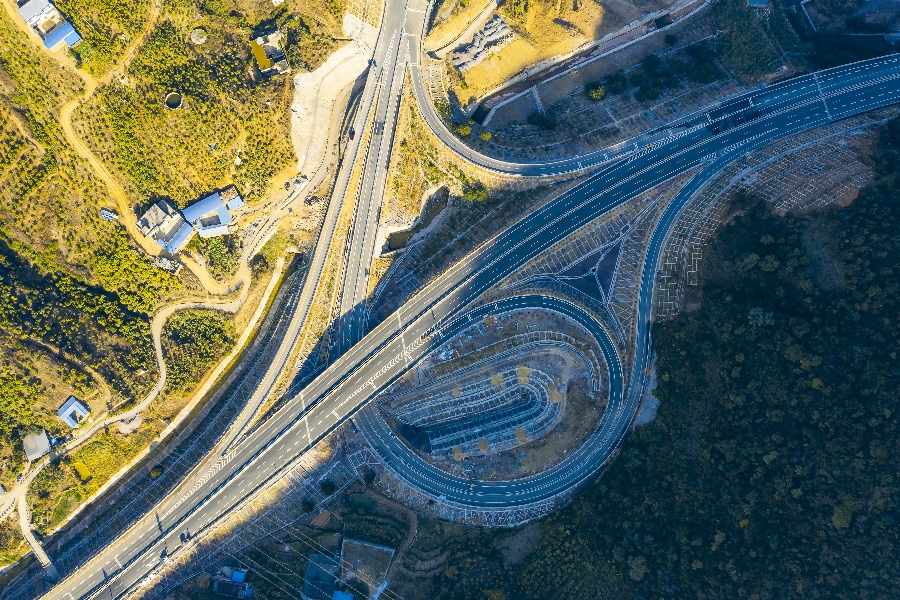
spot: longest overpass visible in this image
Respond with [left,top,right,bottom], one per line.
[296,318,442,436]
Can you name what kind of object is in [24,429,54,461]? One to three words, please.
house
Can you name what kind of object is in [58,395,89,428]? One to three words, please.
house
